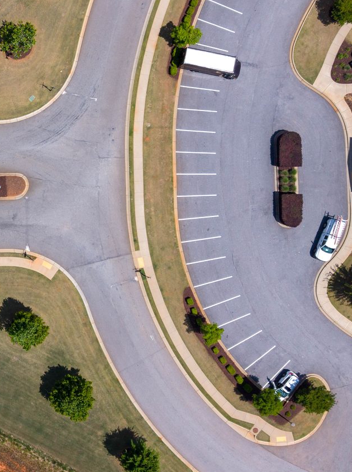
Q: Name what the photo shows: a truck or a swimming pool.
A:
truck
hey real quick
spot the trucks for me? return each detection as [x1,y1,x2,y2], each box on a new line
[176,47,237,76]
[315,216,351,263]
